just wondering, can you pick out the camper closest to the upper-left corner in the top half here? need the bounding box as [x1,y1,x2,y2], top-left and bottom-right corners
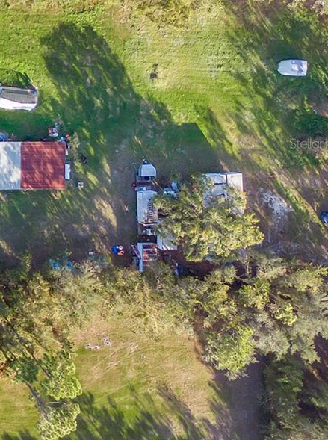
[133,159,156,182]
